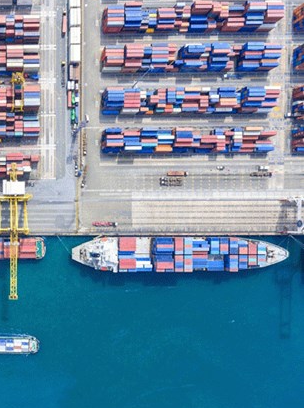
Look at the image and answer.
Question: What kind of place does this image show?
port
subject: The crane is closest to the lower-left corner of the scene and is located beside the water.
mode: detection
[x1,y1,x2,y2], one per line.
[0,161,28,301]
